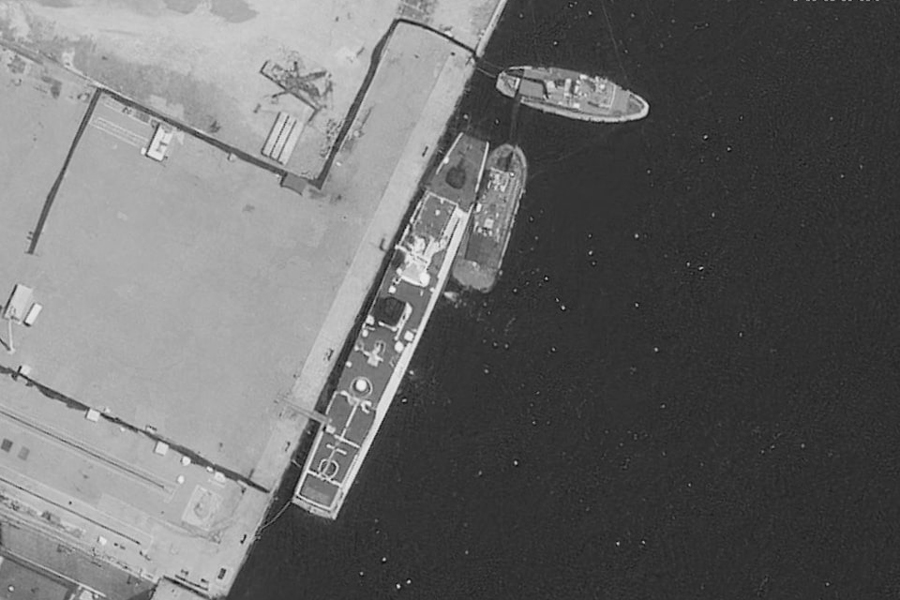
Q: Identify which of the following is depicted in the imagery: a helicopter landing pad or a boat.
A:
boat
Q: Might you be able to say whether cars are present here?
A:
No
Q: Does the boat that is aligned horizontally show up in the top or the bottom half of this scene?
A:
top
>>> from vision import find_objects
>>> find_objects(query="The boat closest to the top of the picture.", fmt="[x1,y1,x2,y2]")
[496,65,650,124]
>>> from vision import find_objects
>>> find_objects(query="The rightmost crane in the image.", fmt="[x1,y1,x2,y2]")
[237,59,337,122]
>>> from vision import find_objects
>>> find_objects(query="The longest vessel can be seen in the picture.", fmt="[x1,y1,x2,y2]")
[294,133,490,518]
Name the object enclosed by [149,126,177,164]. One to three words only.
building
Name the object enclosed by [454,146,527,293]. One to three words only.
boat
